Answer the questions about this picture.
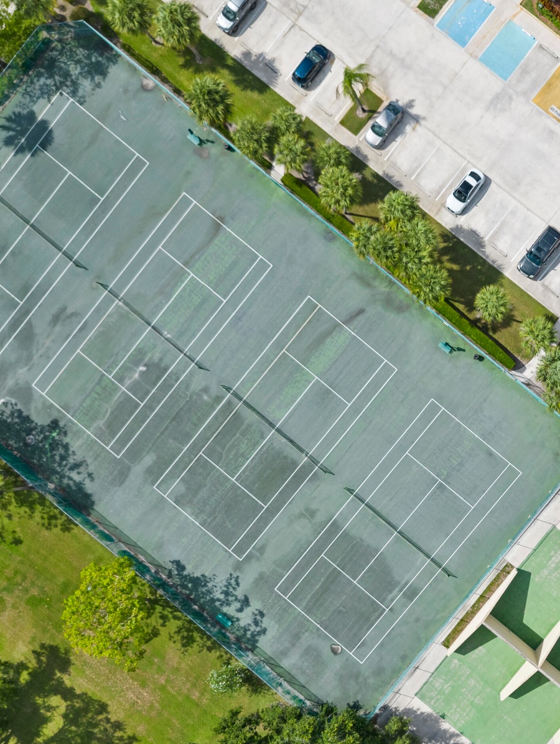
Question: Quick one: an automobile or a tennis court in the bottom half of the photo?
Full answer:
It is a tennis court that can be seen in the bottom half of the photo.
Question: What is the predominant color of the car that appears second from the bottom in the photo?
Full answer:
The color of the car that appears second from the bottom is white.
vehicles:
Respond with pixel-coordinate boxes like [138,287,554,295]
[368,100,404,149]
[294,47,329,89]
[448,167,485,215]
[520,226,560,278]
[218,0,257,35]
